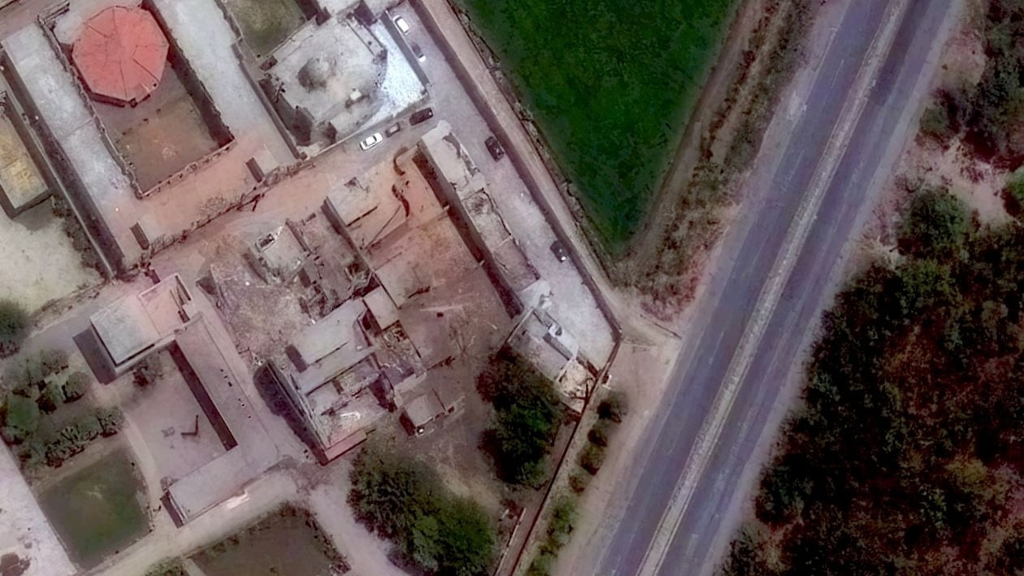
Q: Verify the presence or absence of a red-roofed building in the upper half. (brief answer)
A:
Yes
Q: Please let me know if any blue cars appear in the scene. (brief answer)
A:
No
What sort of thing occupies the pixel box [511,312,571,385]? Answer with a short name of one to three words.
building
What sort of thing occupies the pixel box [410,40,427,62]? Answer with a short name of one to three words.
car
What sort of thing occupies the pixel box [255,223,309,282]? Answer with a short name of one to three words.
house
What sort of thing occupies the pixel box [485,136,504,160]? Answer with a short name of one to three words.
car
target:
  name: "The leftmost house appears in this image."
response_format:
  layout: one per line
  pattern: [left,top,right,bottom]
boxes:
[0,94,51,214]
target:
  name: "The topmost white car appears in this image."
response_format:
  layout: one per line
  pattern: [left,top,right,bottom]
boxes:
[392,13,411,36]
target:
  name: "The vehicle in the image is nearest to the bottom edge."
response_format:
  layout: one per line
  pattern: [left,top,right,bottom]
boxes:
[550,240,568,262]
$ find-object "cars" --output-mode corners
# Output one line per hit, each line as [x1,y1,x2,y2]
[410,40,427,62]
[384,123,402,136]
[409,107,435,125]
[392,13,411,36]
[485,136,504,160]
[550,240,568,262]
[359,133,383,150]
